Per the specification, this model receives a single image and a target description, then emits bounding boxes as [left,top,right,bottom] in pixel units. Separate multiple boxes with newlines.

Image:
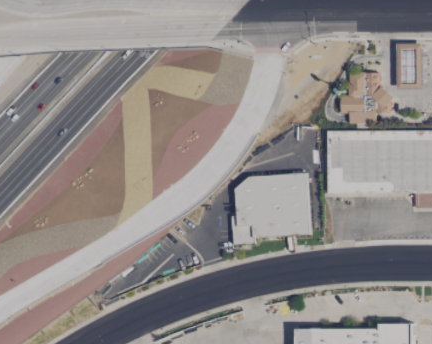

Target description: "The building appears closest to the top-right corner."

[397,45,422,89]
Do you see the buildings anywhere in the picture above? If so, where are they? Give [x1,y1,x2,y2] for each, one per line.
[235,174,314,240]
[397,45,422,89]
[328,131,432,196]
[294,322,418,344]
[341,74,394,129]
